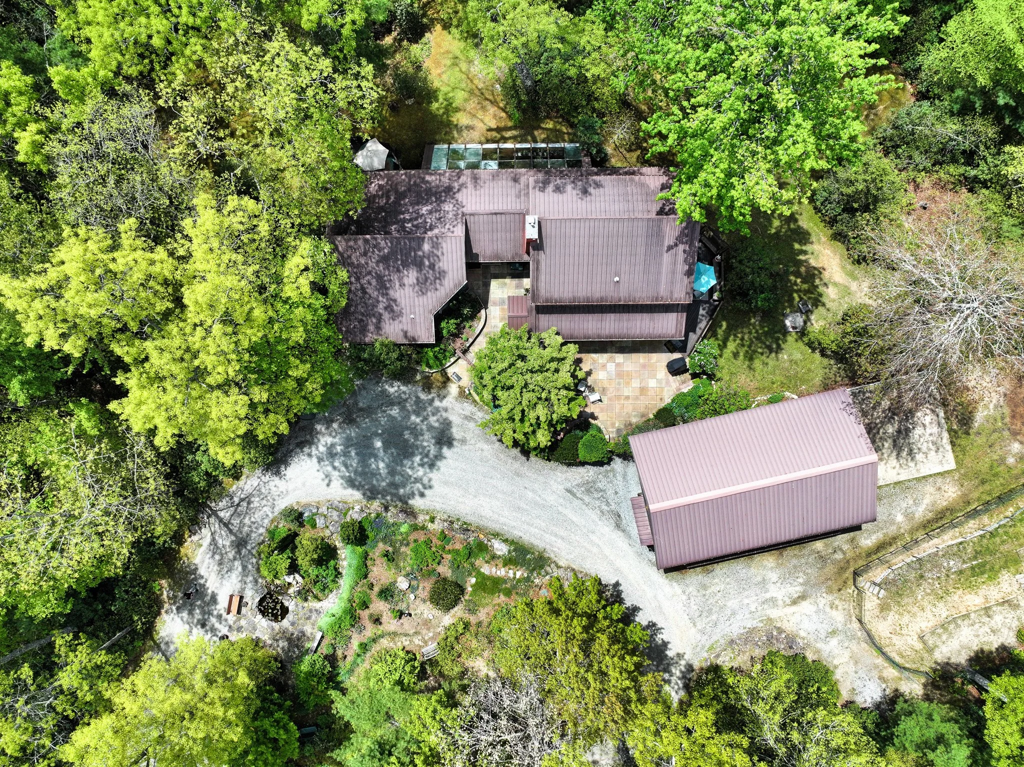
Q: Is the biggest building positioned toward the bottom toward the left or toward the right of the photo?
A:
right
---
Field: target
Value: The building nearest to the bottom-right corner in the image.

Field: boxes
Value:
[625,388,880,571]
